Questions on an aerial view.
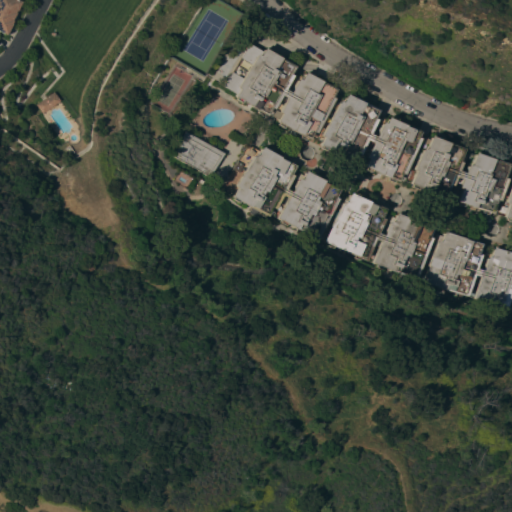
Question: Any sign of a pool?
Yes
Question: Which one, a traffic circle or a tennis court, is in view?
tennis court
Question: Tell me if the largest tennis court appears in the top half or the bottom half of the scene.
top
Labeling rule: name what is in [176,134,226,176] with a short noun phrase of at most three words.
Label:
building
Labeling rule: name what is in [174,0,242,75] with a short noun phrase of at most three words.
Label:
tennis court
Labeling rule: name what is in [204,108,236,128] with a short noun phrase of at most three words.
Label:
swimming pool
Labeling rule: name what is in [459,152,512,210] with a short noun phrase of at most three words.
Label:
house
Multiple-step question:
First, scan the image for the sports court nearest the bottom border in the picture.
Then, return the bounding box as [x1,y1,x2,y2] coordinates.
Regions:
[156,67,192,112]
